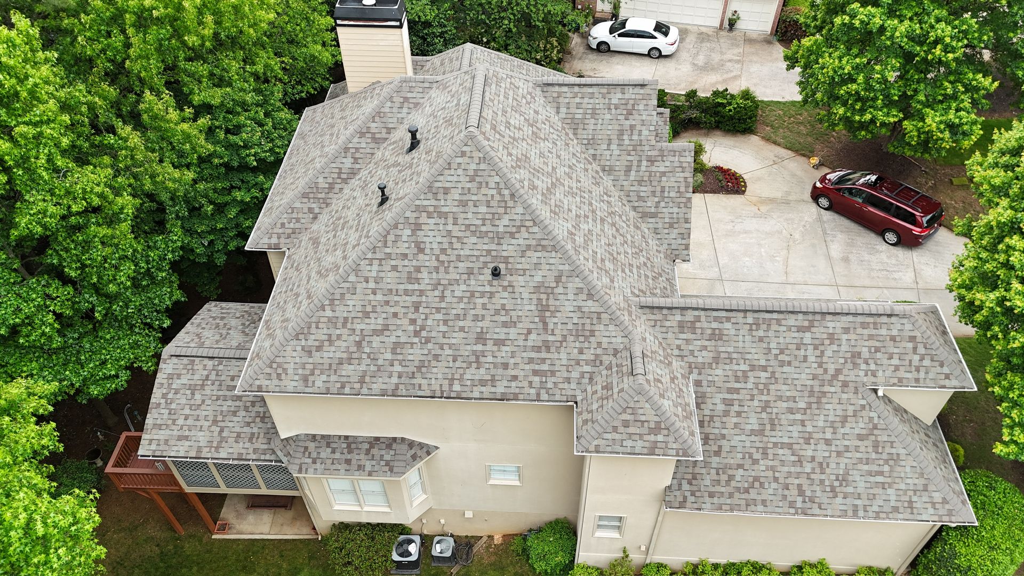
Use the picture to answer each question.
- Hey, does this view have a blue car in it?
No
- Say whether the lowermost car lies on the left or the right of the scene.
right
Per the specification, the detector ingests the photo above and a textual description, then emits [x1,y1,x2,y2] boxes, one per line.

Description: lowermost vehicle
[810,170,944,251]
